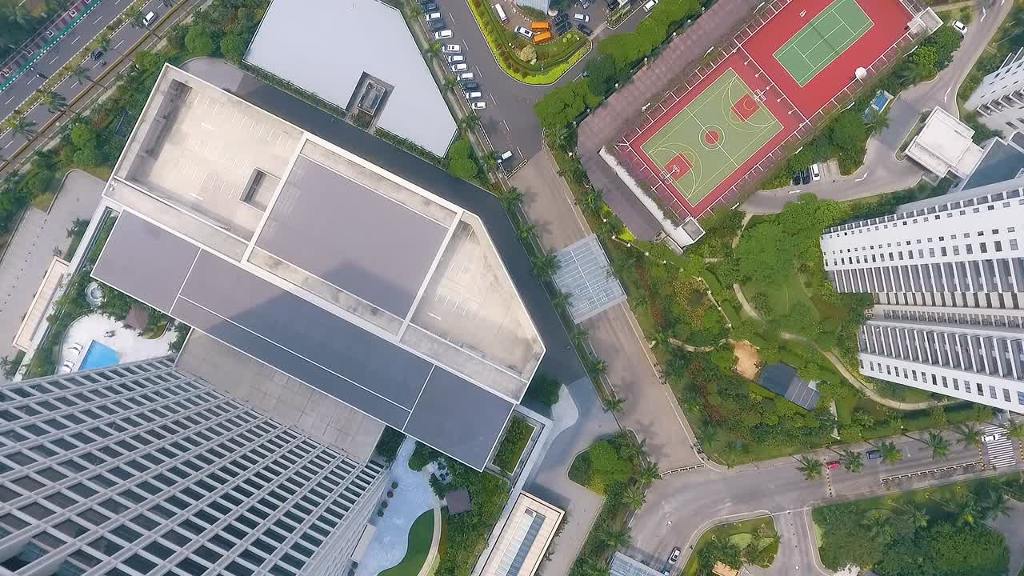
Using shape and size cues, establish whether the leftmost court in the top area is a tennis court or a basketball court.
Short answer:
basketball court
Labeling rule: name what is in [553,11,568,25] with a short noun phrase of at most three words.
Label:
car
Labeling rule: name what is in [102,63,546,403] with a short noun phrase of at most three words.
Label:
building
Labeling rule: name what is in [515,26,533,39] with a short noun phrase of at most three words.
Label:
vehicle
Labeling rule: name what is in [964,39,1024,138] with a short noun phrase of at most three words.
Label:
building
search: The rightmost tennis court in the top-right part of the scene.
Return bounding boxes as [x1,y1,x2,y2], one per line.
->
[741,0,916,120]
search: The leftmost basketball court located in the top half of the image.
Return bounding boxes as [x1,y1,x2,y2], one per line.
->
[629,47,806,217]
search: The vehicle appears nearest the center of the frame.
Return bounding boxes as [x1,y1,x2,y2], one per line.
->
[498,150,513,162]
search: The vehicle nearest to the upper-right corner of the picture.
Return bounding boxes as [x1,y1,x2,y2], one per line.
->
[952,20,967,33]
